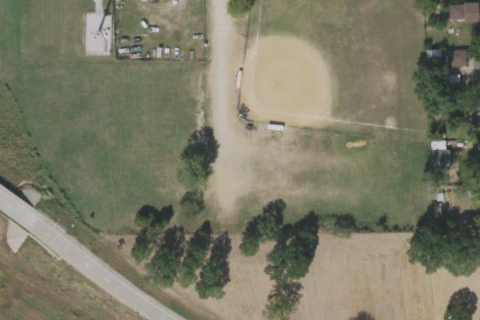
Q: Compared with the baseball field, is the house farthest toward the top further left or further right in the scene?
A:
right of it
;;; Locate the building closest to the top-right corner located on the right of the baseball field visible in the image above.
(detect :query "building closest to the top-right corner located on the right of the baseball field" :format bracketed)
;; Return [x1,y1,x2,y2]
[450,2,480,22]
